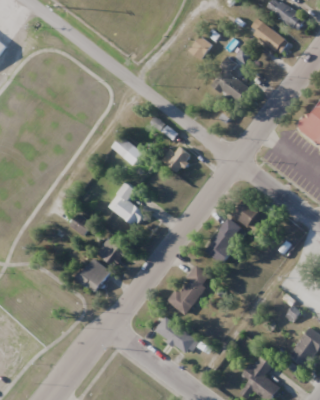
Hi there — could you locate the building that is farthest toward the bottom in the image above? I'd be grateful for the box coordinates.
[240,358,280,398]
